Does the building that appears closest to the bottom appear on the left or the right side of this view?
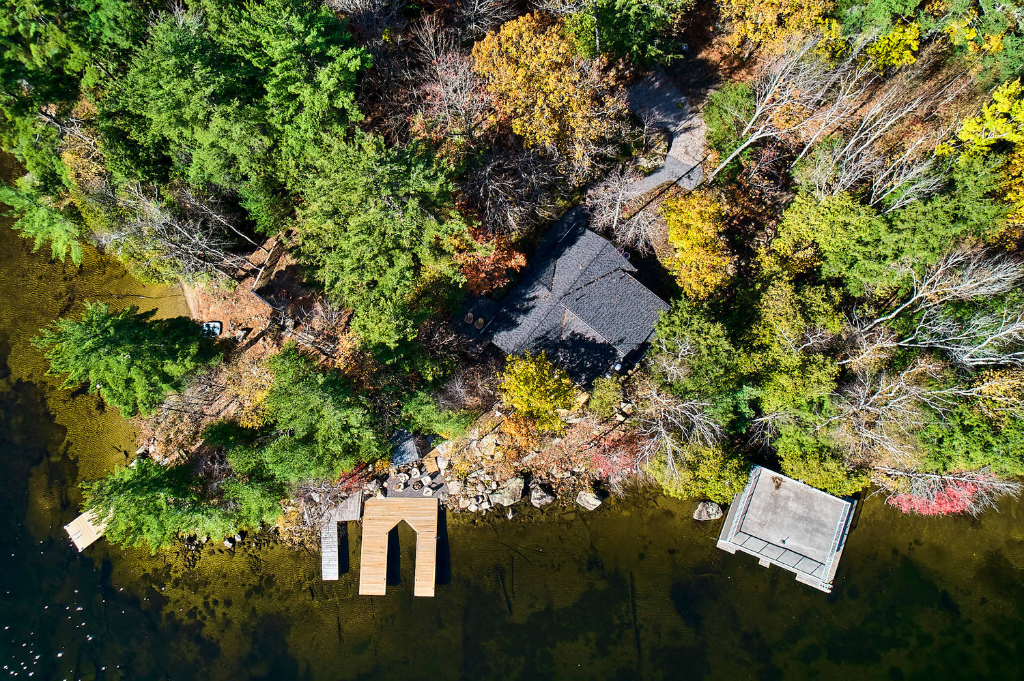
right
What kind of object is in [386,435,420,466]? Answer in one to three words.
shed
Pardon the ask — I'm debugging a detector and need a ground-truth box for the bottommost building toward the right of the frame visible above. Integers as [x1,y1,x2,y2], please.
[714,466,862,592]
